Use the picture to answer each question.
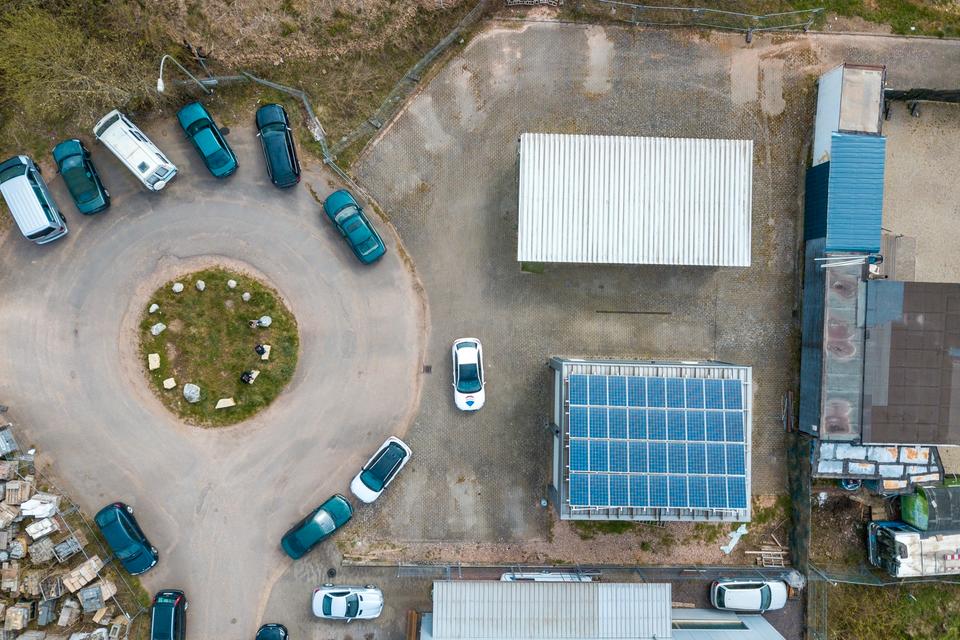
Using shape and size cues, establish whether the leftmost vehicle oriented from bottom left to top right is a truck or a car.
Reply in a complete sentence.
Specifically, the leftmost vehicle oriented from bottom left to top right is a car.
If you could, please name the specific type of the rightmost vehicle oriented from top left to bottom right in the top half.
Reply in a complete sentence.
It turns out the rightmost vehicle oriented from top left to bottom right in the top half is a car.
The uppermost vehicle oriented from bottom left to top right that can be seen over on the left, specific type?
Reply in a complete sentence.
The uppermost vehicle oriented from bottom left to top right that can be seen over on the left in the image is a car.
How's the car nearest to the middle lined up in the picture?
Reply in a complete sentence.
In this picture, the car nearest to the middle lies vertically.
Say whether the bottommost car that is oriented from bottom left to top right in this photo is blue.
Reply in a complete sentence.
Yes, the bottommost car that is oriented from bottom left to top right is blue.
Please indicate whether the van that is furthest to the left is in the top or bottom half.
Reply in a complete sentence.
The van that is furthest to the left sits in the top half of the picture.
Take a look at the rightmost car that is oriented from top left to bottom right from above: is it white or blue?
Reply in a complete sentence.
In this view, the rightmost car that is oriented from top left to bottom right is blue.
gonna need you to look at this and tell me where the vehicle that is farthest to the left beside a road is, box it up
[0,157,65,244]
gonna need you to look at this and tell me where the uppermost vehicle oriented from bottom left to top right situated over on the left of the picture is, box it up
[354,437,411,501]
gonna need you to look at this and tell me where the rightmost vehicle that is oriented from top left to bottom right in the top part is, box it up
[328,193,385,262]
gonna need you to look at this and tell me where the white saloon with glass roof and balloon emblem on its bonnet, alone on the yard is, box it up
[450,337,488,411]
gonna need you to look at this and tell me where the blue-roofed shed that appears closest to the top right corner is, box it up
[801,134,887,255]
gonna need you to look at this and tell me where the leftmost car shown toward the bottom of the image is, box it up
[98,502,158,574]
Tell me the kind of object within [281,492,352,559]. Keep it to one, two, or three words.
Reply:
car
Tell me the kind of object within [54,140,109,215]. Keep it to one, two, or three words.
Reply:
car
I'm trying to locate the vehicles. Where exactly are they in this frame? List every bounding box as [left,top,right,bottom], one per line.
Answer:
[0,157,65,244]
[181,105,239,177]
[450,337,488,411]
[54,140,109,215]
[328,193,385,262]
[98,502,158,574]
[257,622,290,640]
[860,519,960,579]
[710,576,787,616]
[311,586,384,626]
[354,437,411,501]
[255,105,302,188]
[94,111,179,193]
[281,492,352,559]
